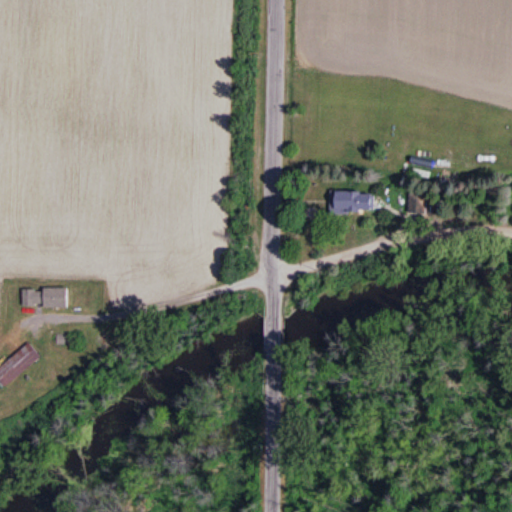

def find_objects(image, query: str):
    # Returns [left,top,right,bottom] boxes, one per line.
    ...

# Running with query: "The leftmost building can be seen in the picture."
[0,342,40,386]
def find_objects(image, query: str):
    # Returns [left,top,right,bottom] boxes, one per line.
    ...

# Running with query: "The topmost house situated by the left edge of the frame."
[22,287,69,309]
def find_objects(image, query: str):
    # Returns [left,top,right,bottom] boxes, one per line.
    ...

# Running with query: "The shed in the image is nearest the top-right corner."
[408,191,424,214]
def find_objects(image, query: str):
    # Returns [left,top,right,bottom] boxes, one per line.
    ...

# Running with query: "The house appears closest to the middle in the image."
[331,190,375,214]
